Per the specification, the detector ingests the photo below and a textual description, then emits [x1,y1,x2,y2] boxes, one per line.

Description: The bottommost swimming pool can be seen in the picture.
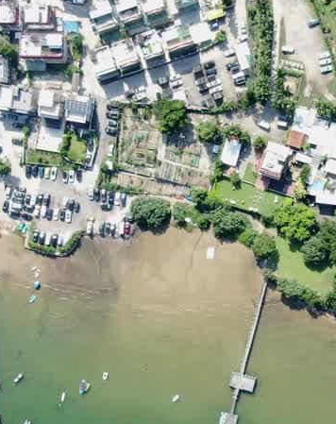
[310,177,328,193]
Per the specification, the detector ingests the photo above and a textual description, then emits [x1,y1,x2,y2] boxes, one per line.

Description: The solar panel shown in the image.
[64,96,86,111]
